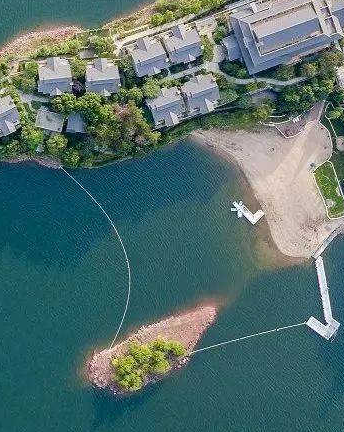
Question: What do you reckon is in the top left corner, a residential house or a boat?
residential house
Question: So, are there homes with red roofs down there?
No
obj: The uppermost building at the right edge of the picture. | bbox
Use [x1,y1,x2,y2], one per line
[217,0,344,74]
